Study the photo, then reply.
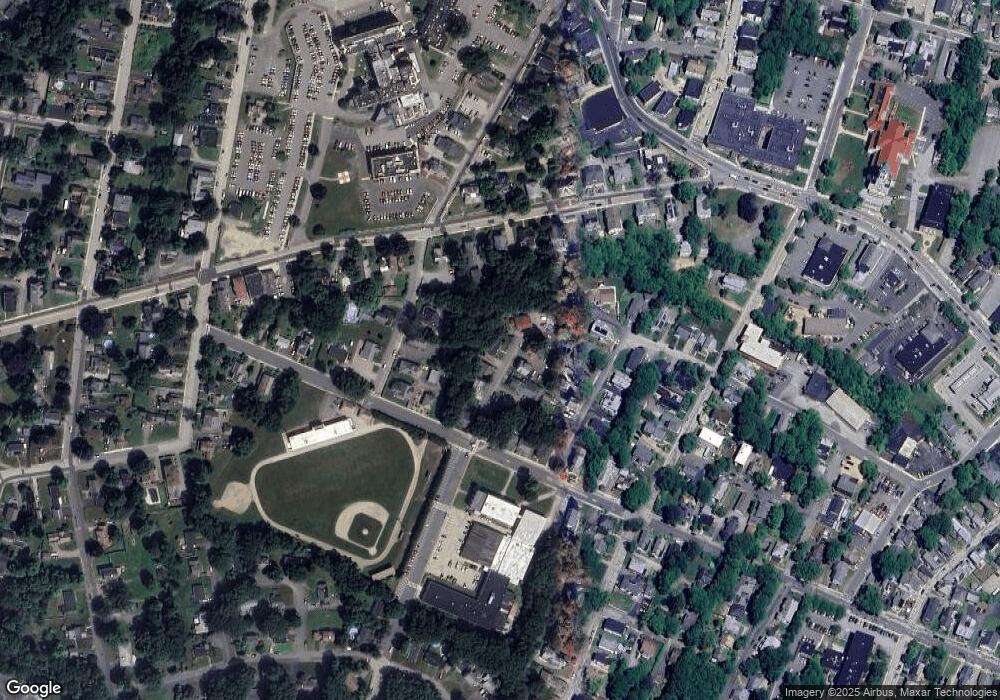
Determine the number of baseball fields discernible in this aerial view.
1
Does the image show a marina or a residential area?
residential area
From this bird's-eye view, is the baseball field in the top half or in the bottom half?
bottom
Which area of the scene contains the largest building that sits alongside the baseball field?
bottom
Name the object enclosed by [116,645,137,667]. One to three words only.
house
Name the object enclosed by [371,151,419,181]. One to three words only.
building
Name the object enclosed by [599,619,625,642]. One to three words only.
house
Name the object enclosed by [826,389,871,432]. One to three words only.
shed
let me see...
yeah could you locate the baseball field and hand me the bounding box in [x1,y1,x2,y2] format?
[248,424,427,559]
